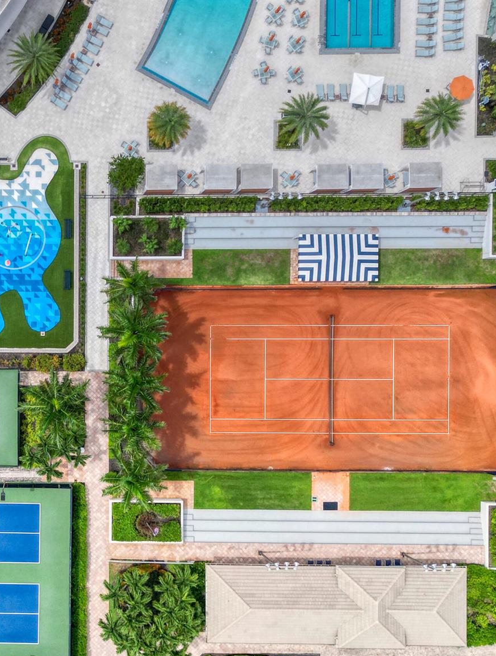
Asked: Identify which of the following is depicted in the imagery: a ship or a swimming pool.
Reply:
swimming pool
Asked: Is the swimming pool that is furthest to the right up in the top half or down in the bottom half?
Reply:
top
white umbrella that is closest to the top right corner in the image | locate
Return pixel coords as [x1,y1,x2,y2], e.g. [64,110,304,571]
[350,72,384,118]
